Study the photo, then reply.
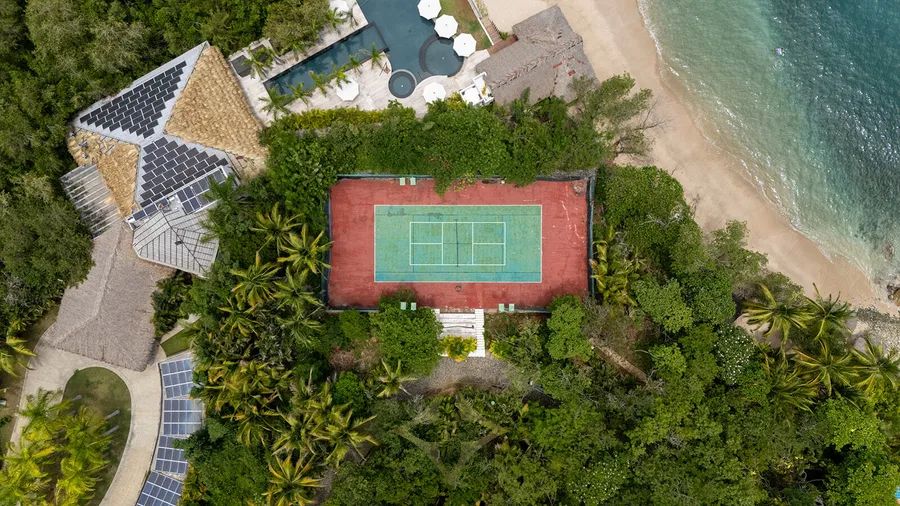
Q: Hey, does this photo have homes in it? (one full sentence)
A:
Yes, I can see a home in this picture.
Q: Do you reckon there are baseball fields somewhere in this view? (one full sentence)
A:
No, there isn't any baseball field down there.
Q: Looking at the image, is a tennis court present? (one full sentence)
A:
Yes, there is a tennis court in the image.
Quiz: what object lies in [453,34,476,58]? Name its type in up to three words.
umbrella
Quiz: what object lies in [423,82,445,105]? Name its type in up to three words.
umbrella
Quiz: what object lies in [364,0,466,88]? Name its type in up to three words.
swimming pool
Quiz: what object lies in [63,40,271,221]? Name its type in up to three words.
house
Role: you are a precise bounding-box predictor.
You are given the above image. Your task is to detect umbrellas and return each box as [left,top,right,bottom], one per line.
[417,0,440,19]
[453,34,476,58]
[337,80,359,103]
[434,16,458,40]
[330,0,351,16]
[423,82,445,105]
